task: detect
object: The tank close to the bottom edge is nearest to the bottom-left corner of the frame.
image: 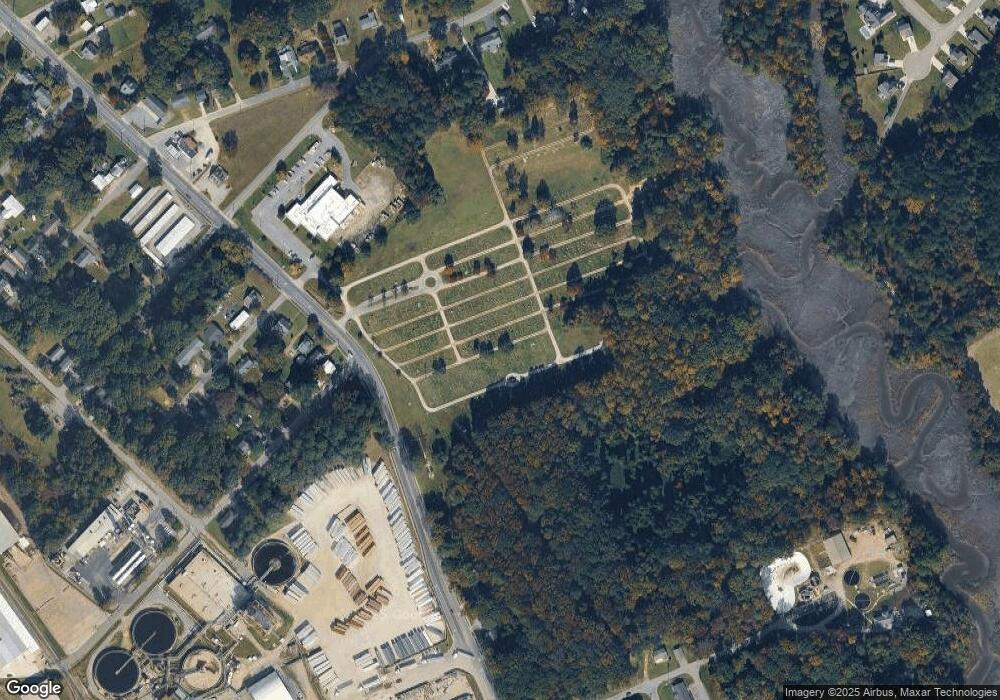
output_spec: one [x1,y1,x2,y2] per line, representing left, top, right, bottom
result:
[92,647,142,696]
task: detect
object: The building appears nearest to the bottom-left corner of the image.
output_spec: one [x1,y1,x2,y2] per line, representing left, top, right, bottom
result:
[0,595,39,678]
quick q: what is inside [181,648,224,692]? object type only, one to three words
storage tank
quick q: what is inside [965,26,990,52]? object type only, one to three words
house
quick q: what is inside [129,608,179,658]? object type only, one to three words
storage tank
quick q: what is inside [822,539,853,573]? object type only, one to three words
building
